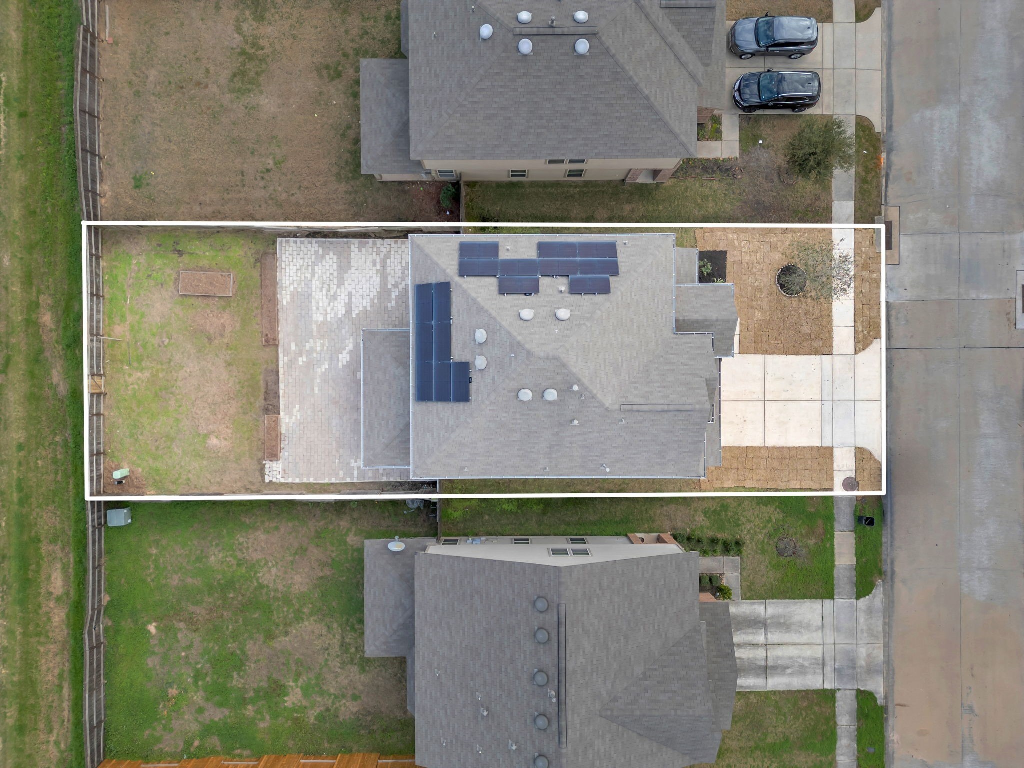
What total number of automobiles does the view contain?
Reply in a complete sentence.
There are 2 automobiles in the image.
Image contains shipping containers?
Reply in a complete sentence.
No, no shipping container can be seen from above.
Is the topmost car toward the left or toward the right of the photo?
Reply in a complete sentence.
The topmost car sits on the right side.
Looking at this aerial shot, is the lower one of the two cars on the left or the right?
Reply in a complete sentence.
The lower one of the two cars sits on the right side.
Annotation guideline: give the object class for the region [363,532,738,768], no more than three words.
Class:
house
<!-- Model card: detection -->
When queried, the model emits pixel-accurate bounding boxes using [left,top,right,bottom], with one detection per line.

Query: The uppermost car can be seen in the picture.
[728,9,819,59]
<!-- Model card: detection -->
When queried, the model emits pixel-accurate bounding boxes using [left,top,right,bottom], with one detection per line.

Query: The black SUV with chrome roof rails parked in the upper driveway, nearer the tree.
[732,64,822,113]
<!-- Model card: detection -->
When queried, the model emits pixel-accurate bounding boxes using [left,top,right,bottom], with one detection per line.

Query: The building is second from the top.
[361,233,737,480]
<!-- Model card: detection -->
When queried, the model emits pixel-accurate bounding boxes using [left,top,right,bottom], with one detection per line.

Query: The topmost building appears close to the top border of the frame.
[359,0,727,185]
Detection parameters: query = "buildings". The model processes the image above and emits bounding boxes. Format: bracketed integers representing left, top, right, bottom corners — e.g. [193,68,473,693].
[361,233,737,480]
[363,532,738,768]
[359,0,727,185]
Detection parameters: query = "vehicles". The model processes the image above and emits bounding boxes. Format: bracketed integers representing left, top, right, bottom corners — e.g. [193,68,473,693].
[732,64,822,113]
[728,9,819,59]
